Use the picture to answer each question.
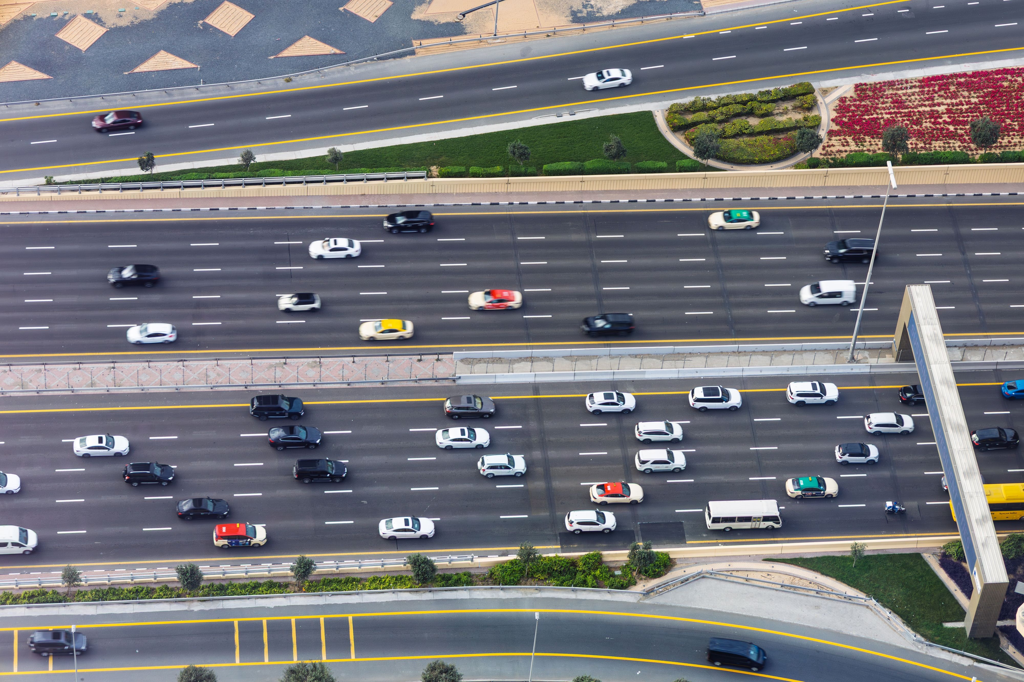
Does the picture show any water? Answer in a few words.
No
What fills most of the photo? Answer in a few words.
paved ground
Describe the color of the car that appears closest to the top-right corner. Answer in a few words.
black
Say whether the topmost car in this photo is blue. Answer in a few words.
No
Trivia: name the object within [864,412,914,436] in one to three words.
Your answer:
car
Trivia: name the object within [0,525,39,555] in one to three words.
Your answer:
van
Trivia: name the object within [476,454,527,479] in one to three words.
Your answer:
car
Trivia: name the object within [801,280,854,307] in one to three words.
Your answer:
vehicle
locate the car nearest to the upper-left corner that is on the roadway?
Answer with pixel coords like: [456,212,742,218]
[92,111,143,133]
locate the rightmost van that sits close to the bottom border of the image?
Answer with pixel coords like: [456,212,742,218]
[705,637,767,674]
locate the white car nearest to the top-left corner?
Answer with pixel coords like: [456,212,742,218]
[127,322,176,345]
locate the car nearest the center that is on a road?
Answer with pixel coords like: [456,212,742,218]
[469,288,521,311]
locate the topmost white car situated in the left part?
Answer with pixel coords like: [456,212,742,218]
[309,237,361,259]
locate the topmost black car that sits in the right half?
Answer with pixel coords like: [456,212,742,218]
[825,239,875,264]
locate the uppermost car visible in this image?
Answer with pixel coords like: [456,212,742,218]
[583,69,631,91]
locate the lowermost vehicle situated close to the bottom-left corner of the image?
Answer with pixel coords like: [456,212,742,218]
[26,629,87,658]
